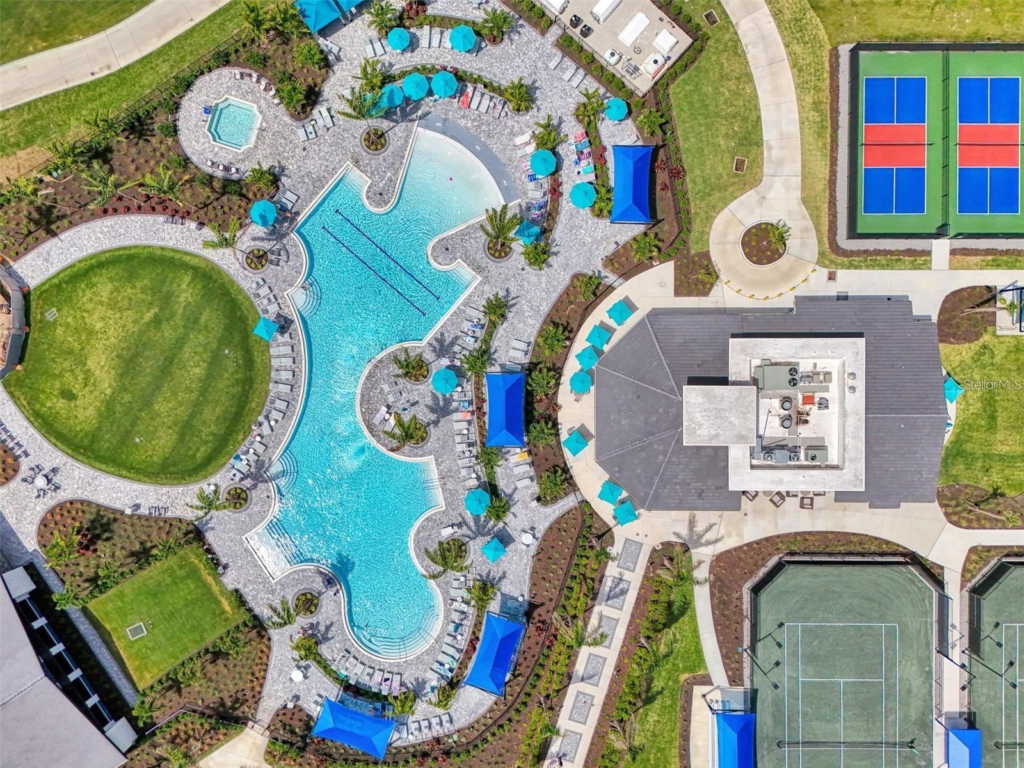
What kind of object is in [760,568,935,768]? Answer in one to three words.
tennis court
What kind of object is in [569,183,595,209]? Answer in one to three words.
umbrella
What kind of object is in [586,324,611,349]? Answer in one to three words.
umbrella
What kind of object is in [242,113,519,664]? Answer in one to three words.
swimming pool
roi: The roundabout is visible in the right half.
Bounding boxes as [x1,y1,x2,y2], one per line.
[739,219,789,269]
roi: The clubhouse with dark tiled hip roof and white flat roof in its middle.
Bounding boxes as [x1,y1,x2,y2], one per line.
[594,301,948,510]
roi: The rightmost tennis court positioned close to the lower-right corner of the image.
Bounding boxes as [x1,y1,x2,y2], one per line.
[967,562,1024,768]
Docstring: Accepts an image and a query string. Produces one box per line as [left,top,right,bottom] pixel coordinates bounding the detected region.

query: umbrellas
[605,299,632,326]
[570,371,592,393]
[251,200,278,227]
[604,99,627,122]
[573,345,600,371]
[944,418,954,437]
[562,430,588,456]
[597,479,622,504]
[432,368,458,395]
[943,375,963,402]
[449,26,475,53]
[255,318,278,340]
[612,500,637,526]
[430,72,457,99]
[529,150,556,177]
[586,324,611,349]
[481,536,507,562]
[387,29,410,54]
[569,183,595,209]
[514,219,542,246]
[464,489,490,515]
